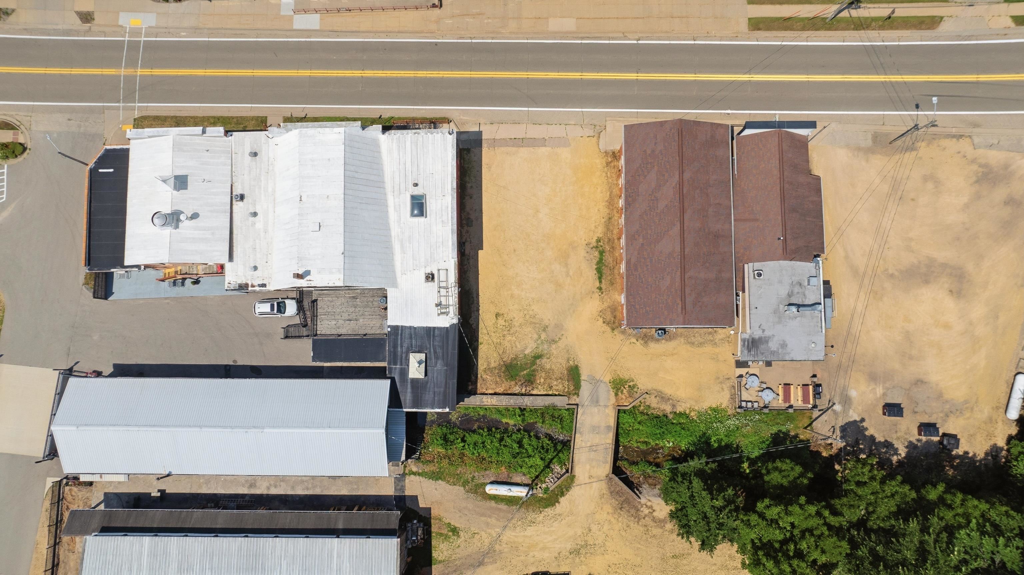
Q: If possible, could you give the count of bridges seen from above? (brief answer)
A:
one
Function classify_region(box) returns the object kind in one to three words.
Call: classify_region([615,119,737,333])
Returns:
building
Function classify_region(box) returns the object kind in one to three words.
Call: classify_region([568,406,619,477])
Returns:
bridge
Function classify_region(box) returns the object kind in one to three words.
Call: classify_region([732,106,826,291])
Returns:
building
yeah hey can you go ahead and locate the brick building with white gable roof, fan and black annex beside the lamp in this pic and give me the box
[81,127,233,275]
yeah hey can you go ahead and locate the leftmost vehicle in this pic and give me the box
[254,296,300,317]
